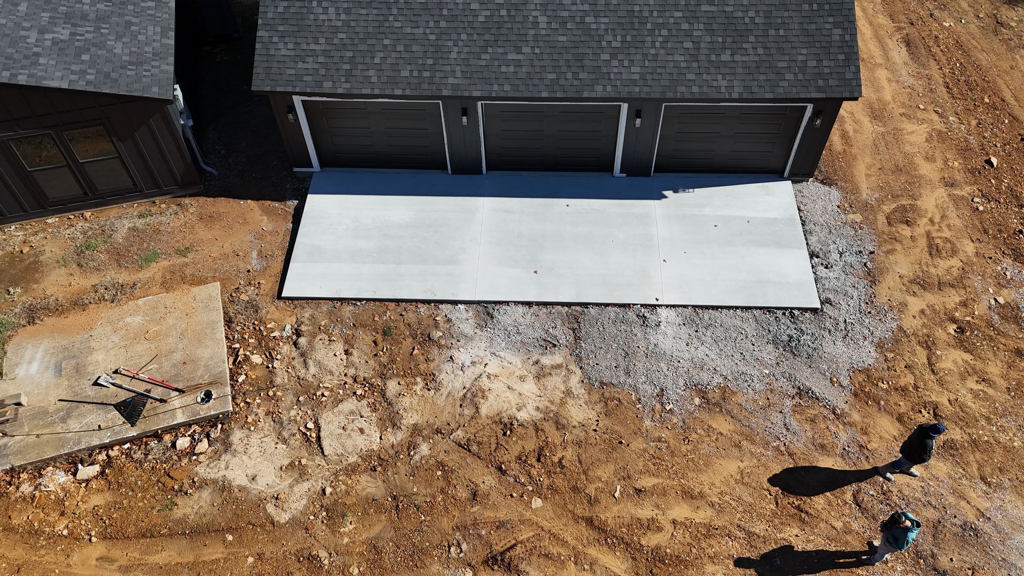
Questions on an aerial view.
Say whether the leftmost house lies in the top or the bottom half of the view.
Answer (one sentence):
The leftmost house sits in the top half of the picture.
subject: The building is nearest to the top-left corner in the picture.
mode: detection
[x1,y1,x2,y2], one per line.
[0,0,241,228]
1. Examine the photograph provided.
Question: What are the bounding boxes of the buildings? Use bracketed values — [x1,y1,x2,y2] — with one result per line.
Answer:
[0,0,241,228]
[251,0,861,181]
